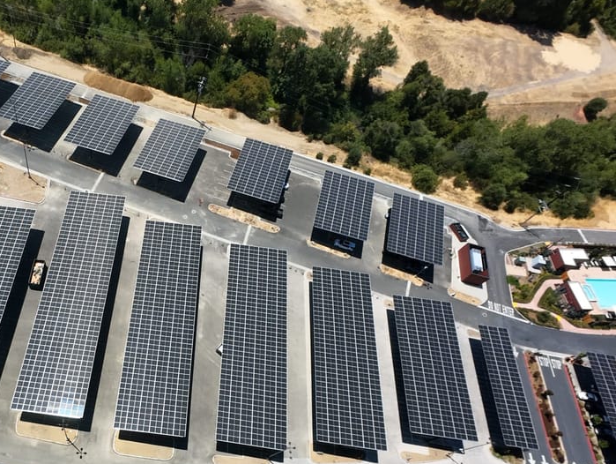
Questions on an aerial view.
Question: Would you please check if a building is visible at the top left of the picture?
No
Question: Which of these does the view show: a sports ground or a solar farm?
solar farm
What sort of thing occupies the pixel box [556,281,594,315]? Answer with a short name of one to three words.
building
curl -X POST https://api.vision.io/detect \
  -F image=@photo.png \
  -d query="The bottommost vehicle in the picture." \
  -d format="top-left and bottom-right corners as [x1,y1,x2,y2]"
[593,427,615,440]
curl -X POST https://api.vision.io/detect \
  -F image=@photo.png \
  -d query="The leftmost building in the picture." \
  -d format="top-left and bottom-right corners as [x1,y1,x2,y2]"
[455,244,488,291]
